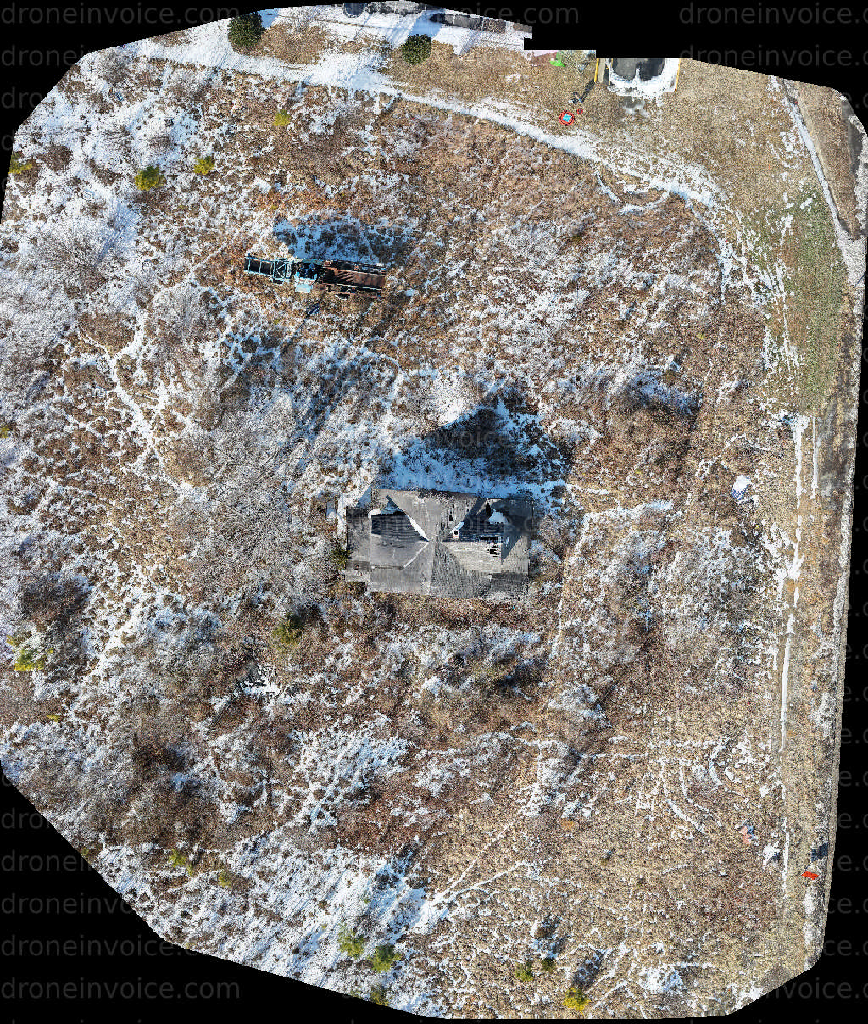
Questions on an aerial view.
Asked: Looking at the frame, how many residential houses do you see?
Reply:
1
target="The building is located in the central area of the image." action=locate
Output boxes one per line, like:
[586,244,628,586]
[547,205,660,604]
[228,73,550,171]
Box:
[344,488,533,601]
